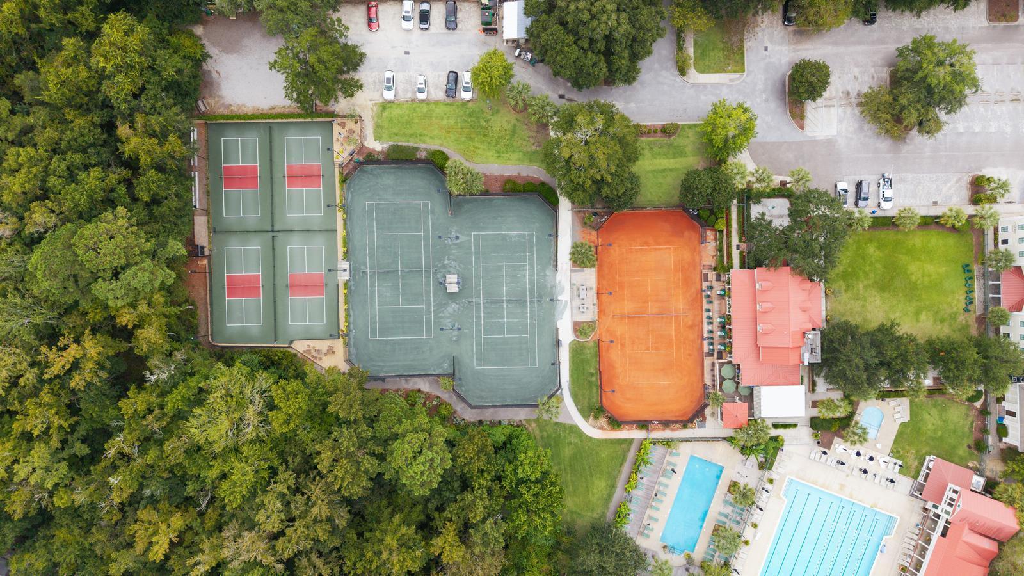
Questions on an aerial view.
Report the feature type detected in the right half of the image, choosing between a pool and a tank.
pool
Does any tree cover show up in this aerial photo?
Yes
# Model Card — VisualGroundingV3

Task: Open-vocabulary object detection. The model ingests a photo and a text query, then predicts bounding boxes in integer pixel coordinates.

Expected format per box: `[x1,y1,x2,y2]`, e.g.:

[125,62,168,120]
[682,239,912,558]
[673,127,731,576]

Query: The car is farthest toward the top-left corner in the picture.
[367,2,380,32]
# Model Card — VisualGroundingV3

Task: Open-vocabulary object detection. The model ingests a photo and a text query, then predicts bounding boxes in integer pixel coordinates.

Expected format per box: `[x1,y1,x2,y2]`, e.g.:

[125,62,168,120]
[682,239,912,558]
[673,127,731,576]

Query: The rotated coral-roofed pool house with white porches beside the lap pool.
[895,458,1020,576]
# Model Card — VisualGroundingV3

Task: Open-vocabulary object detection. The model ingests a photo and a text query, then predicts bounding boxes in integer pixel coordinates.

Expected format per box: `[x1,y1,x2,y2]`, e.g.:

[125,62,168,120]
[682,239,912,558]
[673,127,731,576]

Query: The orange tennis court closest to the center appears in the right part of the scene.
[598,210,705,421]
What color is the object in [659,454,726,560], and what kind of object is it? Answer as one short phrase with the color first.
blue swimming pool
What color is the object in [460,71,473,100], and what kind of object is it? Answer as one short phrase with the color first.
white vehicle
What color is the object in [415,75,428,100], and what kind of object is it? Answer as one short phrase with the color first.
white vehicle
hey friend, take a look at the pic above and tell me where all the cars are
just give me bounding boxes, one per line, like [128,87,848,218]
[445,71,458,98]
[401,1,415,30]
[445,1,458,31]
[367,2,380,32]
[382,71,396,100]
[834,181,849,202]
[782,0,794,25]
[415,75,428,100]
[854,180,870,207]
[460,71,473,100]
[418,2,431,30]
[863,3,878,26]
